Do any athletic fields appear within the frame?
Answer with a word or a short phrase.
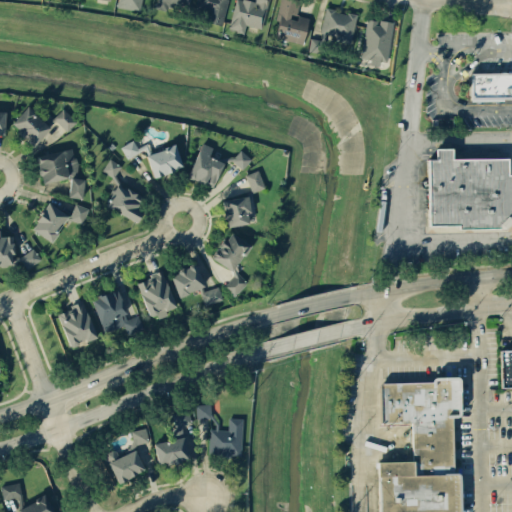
No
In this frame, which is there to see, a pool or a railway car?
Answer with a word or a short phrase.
pool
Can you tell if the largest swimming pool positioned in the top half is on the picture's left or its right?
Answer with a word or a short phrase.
left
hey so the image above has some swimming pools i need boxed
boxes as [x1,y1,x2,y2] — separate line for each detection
[112,434,132,450]
[142,126,170,147]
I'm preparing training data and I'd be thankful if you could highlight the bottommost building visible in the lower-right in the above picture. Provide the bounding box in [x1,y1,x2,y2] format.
[378,462,465,512]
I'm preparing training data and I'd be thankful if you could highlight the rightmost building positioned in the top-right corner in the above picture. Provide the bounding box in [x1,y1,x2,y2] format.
[471,73,512,102]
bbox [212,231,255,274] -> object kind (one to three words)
house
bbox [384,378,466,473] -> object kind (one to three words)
building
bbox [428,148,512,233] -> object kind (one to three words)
building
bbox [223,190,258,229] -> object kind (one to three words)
house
